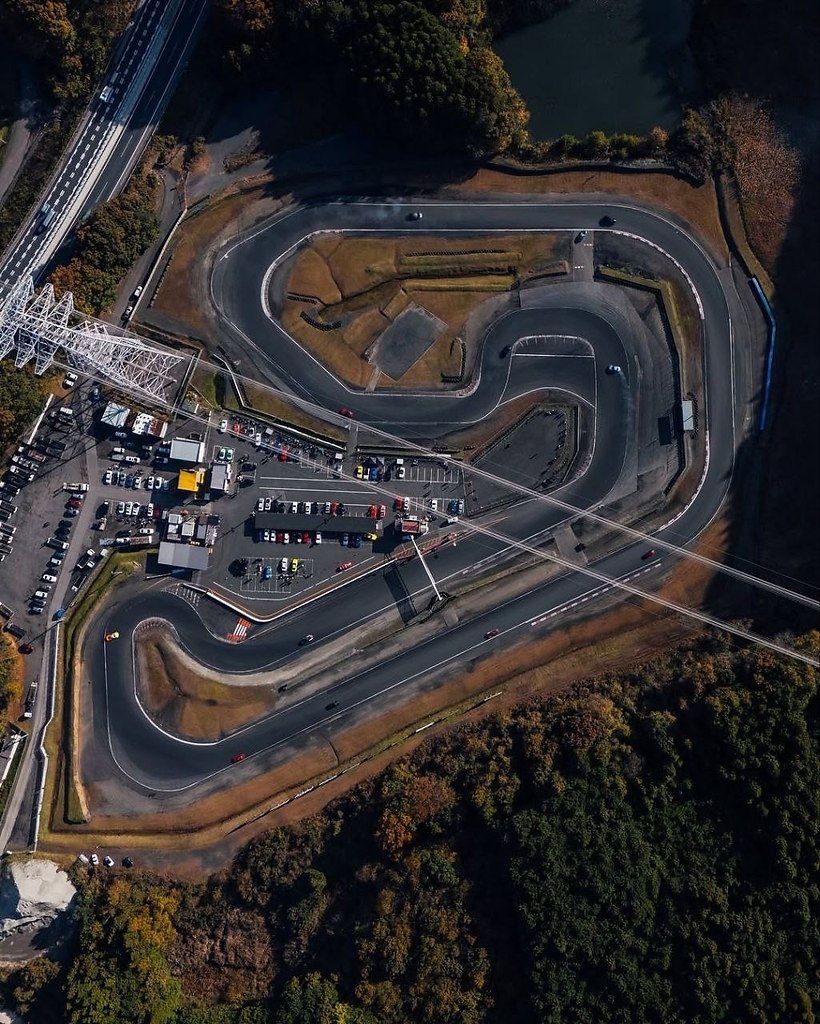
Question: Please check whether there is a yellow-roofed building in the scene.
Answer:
Yes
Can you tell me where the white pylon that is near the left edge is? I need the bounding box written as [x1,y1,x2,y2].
[0,266,187,409]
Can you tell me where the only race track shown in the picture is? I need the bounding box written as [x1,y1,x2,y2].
[86,203,735,791]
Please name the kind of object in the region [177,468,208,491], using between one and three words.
building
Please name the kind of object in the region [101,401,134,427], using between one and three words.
house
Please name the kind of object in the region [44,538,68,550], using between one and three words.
vehicle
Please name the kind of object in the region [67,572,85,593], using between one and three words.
vehicle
